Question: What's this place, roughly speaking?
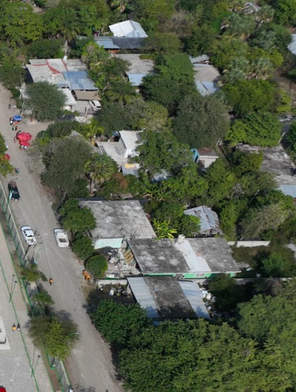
residential area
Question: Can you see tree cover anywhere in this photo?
Yes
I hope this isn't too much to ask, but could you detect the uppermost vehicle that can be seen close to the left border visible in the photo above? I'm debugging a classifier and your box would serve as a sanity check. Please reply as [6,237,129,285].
[6,179,22,198]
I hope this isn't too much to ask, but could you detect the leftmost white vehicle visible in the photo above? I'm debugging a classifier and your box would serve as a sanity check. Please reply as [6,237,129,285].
[21,226,38,243]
